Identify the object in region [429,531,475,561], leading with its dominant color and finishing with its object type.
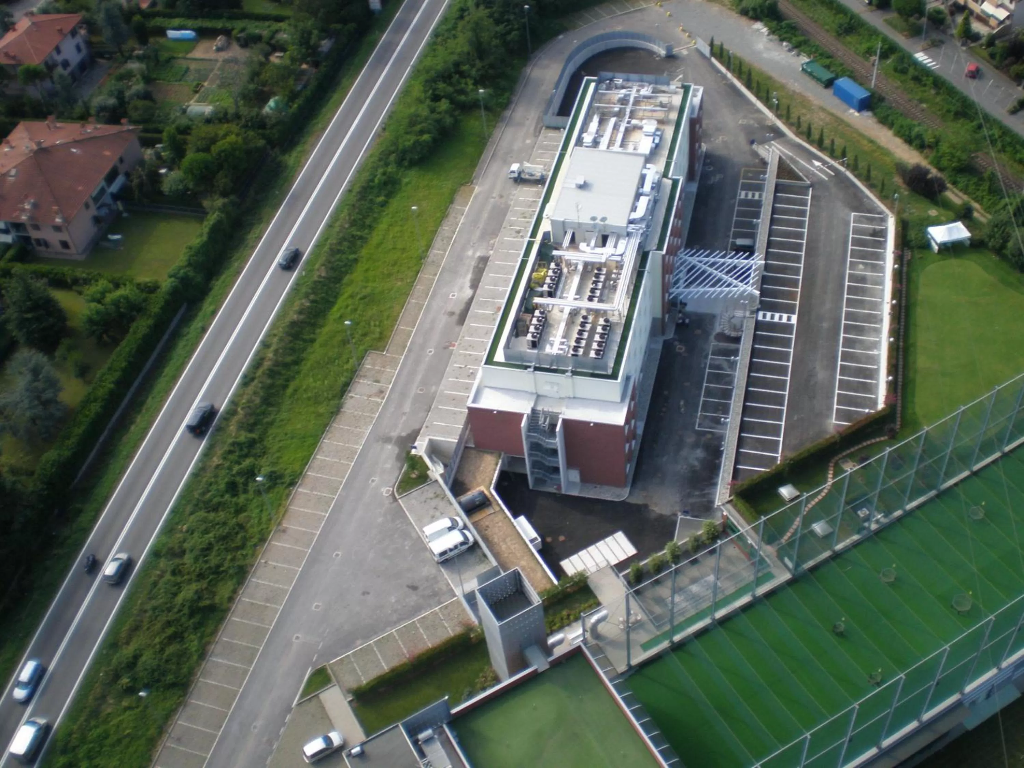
white van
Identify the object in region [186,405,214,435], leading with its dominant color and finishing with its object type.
black car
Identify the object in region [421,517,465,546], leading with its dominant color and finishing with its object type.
white van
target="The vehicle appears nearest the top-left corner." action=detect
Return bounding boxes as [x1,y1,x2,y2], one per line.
[279,250,299,270]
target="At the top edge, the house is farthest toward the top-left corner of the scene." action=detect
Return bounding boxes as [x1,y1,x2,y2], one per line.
[0,9,90,94]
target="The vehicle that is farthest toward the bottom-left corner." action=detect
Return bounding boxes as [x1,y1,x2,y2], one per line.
[5,716,48,765]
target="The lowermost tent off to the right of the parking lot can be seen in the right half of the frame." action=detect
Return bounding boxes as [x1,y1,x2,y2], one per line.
[925,222,971,256]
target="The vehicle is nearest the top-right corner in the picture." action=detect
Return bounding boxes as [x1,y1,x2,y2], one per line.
[966,64,980,79]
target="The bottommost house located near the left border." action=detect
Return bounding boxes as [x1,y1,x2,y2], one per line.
[0,120,150,258]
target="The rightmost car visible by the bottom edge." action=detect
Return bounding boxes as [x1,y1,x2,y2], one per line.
[300,731,347,768]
